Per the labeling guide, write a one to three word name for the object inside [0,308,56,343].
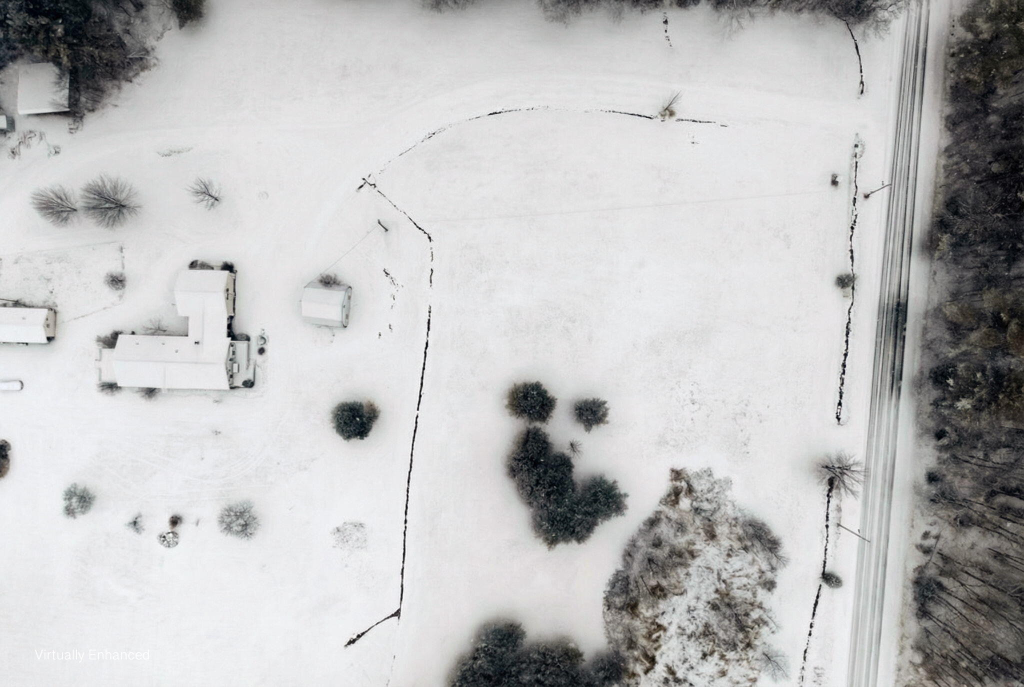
house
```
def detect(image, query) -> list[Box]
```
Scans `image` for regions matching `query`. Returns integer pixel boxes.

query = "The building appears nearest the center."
[300,282,350,328]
